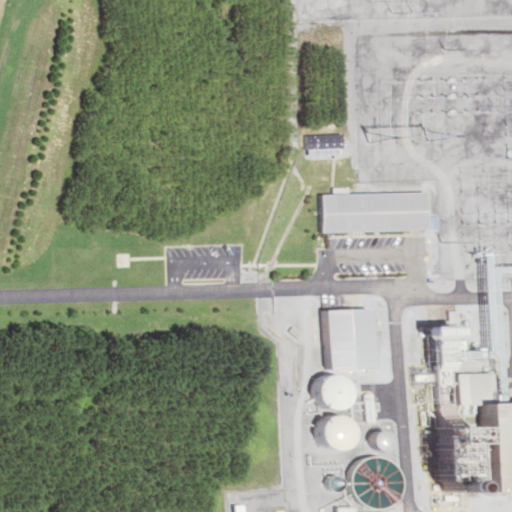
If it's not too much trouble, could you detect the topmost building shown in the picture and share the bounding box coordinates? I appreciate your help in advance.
[302,135,344,150]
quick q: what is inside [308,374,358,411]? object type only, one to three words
storage tank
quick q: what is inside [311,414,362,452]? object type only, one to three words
storage tank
